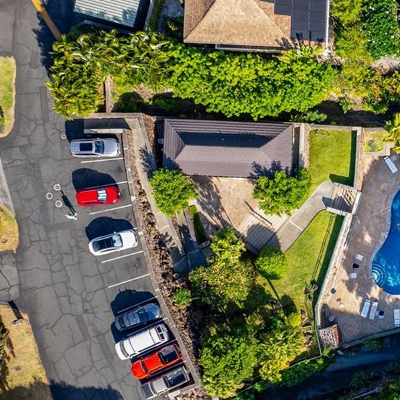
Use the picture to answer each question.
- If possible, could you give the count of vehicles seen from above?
7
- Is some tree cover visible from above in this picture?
Yes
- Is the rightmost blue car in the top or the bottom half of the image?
bottom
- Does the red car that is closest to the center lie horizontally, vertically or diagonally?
horizontally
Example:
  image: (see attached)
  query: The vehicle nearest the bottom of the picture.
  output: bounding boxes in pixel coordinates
[145,366,194,398]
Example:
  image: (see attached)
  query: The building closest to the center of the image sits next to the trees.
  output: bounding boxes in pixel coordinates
[162,118,293,178]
